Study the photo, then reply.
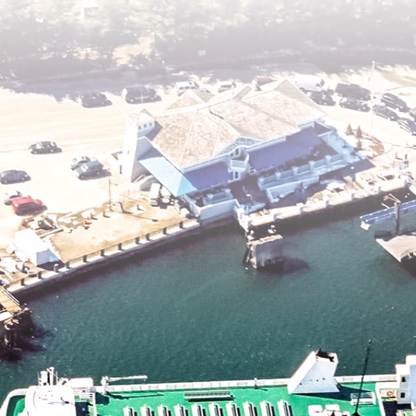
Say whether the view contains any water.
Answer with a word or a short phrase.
Yes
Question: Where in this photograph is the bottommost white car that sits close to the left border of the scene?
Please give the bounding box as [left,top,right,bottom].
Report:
[0,191,31,206]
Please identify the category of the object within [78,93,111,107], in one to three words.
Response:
vehicle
